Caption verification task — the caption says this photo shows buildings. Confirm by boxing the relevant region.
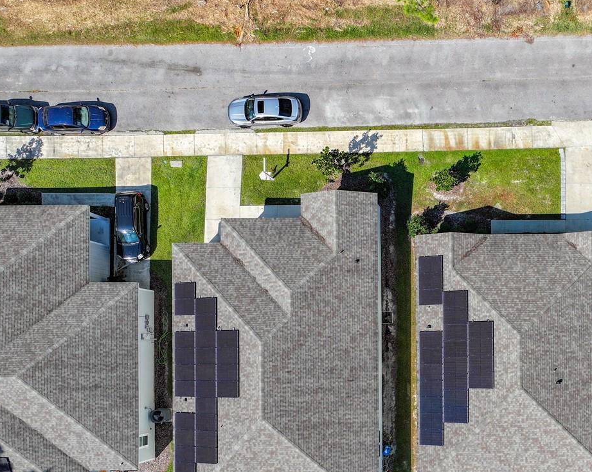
[171,190,383,472]
[0,205,163,472]
[414,231,592,472]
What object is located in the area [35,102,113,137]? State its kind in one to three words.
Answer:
car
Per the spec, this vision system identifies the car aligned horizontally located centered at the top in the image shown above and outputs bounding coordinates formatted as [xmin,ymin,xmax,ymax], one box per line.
[228,93,305,130]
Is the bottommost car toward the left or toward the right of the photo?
left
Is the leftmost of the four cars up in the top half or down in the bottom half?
top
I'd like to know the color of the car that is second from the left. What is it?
blue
